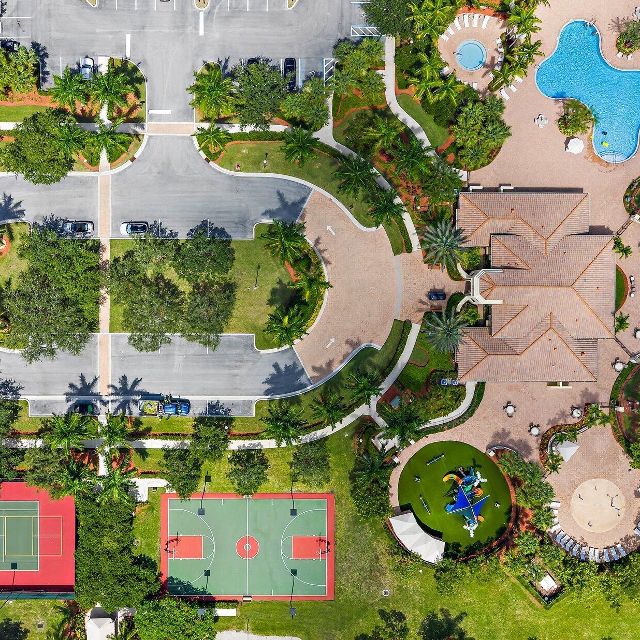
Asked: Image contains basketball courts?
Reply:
Yes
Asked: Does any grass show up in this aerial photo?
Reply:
Yes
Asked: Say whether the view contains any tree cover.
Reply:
Yes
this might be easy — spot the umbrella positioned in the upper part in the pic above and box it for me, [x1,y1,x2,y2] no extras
[566,138,584,154]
